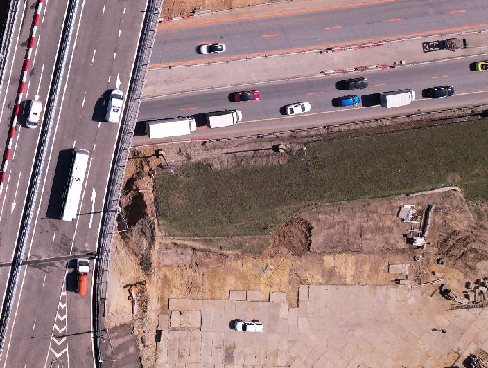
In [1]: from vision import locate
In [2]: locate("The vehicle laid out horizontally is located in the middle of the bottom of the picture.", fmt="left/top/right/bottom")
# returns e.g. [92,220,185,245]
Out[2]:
[235,319,262,333]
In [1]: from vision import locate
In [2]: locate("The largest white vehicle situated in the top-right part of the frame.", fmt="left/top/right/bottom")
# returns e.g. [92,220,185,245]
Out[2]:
[375,89,410,108]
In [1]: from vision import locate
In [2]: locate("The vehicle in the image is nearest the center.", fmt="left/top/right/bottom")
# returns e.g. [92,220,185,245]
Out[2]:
[204,108,239,128]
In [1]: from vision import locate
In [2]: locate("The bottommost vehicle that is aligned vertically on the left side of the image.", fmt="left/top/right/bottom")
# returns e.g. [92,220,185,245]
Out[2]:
[75,254,91,297]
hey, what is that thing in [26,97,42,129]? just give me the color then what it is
white vehicle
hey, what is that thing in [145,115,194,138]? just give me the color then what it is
white truck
